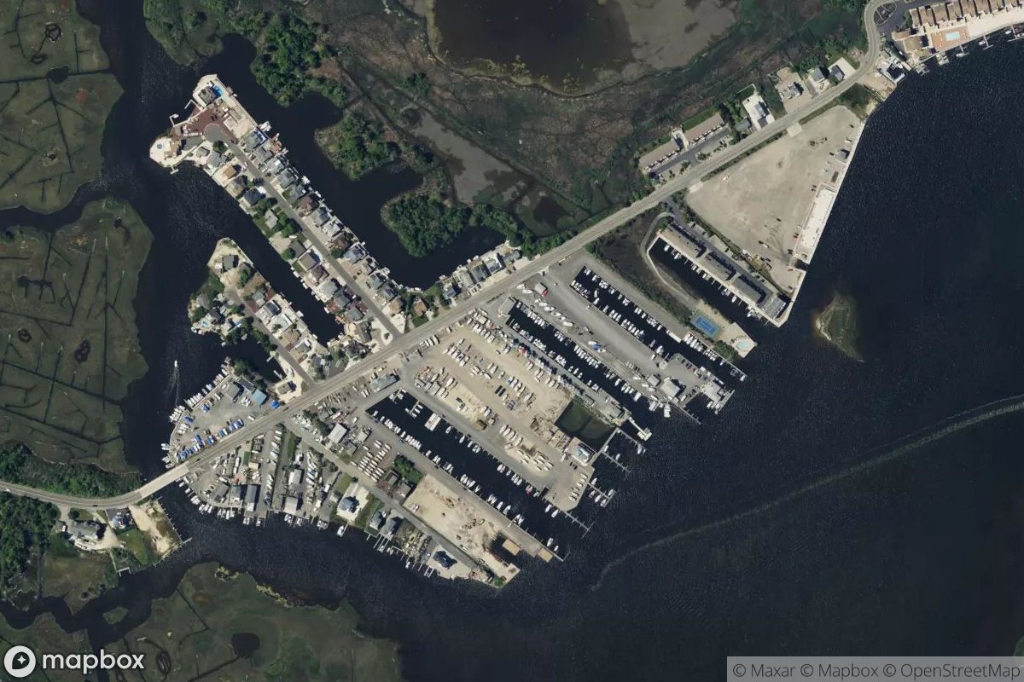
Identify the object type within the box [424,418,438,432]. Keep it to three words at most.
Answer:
ship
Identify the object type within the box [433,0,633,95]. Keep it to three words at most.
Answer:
pond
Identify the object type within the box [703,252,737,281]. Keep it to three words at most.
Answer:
building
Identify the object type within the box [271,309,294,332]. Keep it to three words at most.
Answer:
house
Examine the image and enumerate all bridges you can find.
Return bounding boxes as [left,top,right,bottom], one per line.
[139,462,192,499]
